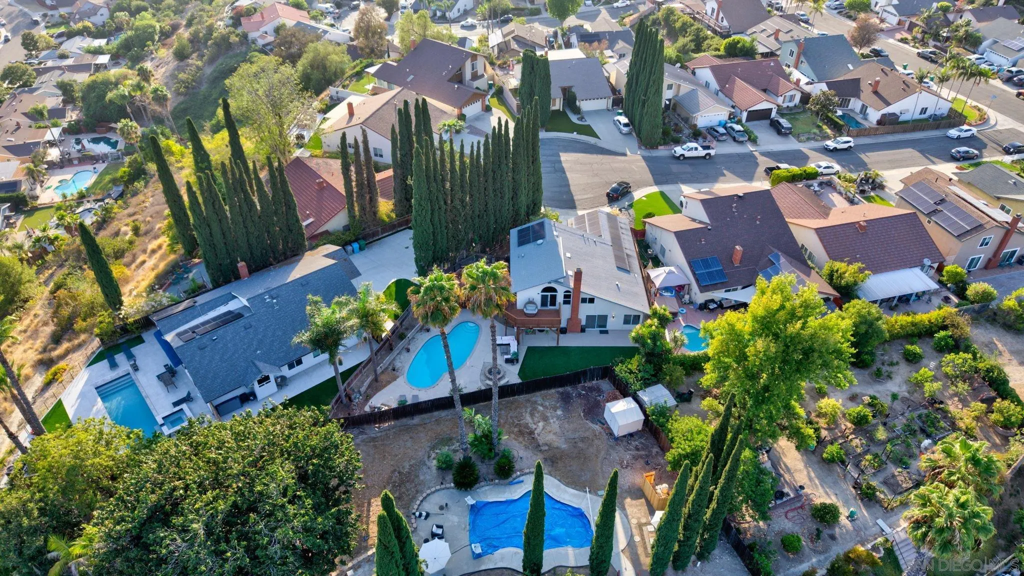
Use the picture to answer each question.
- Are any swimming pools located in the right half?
Yes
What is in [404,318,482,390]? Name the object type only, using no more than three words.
swimming pool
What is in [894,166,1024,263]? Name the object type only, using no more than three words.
house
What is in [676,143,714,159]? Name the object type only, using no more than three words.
vehicle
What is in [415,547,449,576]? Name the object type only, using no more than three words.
umbrella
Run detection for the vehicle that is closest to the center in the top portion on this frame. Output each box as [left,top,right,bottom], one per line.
[605,183,633,200]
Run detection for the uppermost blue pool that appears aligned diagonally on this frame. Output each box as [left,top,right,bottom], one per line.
[836,111,869,131]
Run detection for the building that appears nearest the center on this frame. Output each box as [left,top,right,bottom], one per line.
[509,209,650,333]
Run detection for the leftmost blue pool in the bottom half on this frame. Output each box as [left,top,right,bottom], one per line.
[89,368,167,453]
